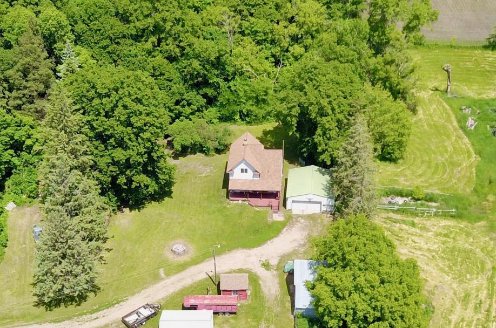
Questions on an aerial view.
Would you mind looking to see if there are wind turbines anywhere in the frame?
No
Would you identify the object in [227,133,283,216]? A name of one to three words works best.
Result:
house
